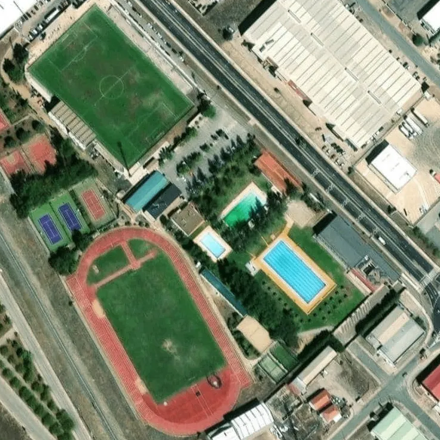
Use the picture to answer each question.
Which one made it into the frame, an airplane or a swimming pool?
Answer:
swimming pool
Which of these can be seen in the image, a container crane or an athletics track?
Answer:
athletics track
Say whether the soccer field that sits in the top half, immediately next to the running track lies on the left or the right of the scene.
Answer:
left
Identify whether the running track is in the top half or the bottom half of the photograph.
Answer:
bottom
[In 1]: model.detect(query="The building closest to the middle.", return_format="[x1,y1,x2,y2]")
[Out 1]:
[170,202,205,236]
